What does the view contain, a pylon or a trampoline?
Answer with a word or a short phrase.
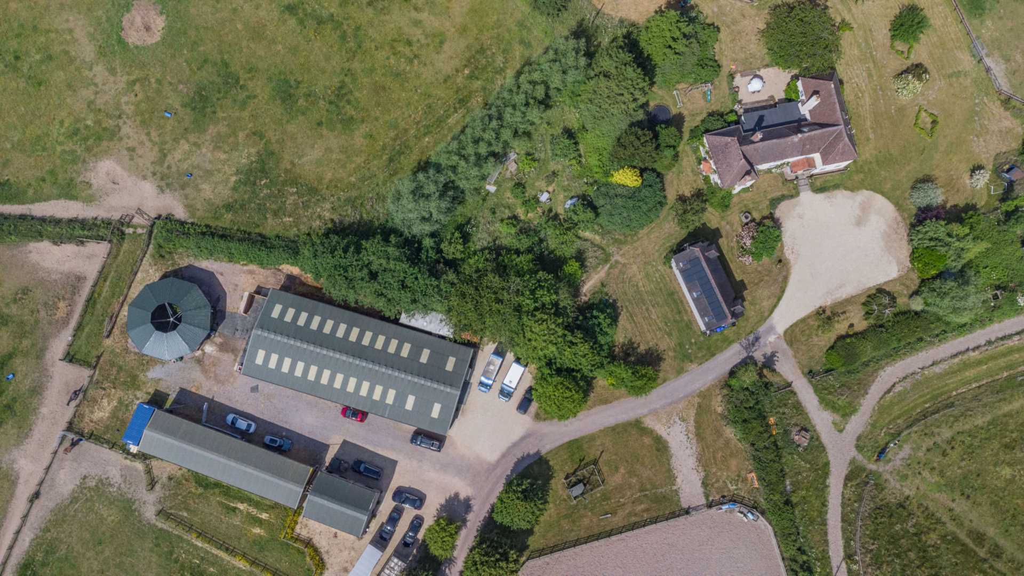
trampoline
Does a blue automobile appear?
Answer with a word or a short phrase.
Yes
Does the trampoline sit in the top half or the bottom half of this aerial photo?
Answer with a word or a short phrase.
top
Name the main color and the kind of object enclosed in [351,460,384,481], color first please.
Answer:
black car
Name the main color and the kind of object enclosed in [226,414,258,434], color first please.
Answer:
blue car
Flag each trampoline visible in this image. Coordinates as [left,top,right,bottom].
[650,99,675,124]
